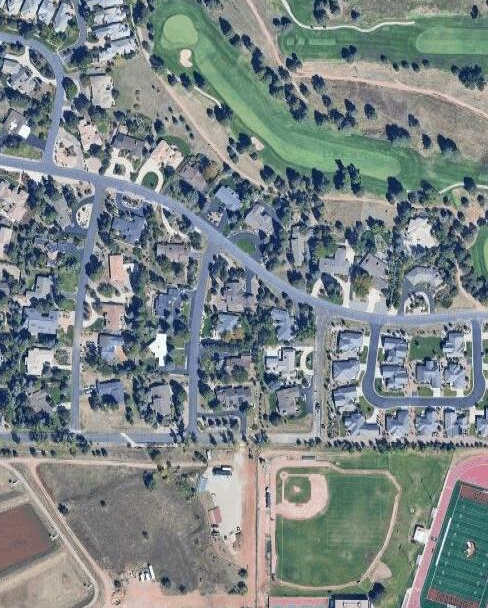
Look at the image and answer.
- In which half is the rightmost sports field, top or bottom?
bottom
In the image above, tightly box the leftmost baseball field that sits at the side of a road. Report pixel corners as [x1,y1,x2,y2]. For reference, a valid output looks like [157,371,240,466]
[272,460,403,591]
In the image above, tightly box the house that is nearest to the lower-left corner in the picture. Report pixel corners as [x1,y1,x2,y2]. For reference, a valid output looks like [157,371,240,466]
[26,390,52,415]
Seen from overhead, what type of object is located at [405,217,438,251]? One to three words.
house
